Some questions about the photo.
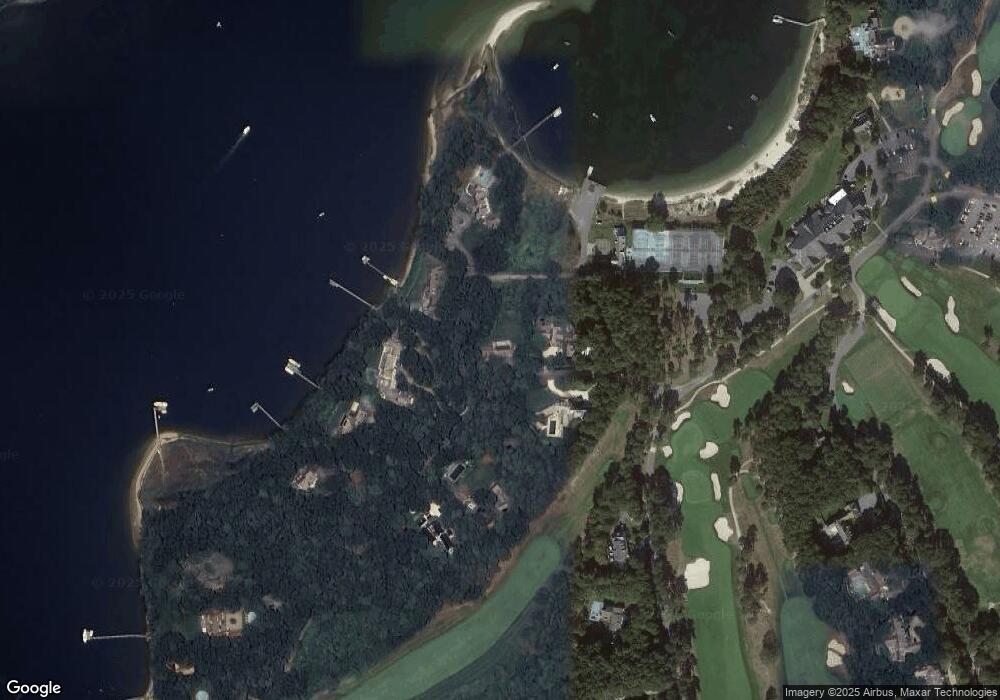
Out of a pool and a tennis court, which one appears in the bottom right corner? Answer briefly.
pool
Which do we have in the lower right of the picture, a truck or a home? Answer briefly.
home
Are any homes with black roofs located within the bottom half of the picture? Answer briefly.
Yes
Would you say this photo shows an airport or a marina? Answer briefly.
marina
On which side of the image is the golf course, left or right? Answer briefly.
right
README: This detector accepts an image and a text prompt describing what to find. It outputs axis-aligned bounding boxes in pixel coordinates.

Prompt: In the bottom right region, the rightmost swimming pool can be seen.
[850,573,869,597]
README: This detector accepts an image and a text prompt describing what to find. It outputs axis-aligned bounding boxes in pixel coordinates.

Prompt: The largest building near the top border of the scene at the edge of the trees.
[850,17,896,61]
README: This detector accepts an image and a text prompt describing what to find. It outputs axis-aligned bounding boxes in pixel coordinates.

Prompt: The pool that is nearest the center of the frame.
[547,411,562,437]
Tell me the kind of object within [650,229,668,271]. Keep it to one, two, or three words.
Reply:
tennis court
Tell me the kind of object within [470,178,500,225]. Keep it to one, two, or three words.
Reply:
house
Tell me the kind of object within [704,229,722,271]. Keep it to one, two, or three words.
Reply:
tennis court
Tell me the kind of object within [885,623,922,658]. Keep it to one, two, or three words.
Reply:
house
